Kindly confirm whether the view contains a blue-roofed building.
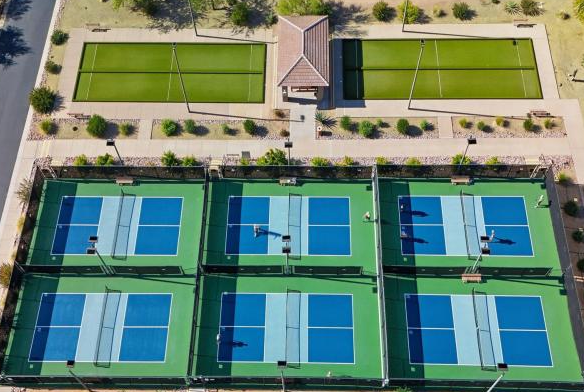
No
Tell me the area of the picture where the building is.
top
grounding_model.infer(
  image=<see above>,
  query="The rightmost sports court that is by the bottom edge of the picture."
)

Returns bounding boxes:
[376,275,584,392]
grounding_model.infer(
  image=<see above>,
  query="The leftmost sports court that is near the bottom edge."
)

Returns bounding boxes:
[0,273,200,390]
